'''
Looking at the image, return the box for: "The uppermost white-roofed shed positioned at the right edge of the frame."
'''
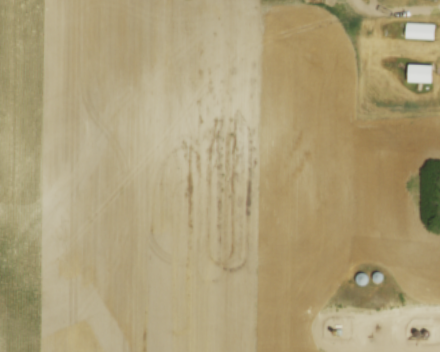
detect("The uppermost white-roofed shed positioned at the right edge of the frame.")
[405,23,435,40]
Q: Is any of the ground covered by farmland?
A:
Yes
